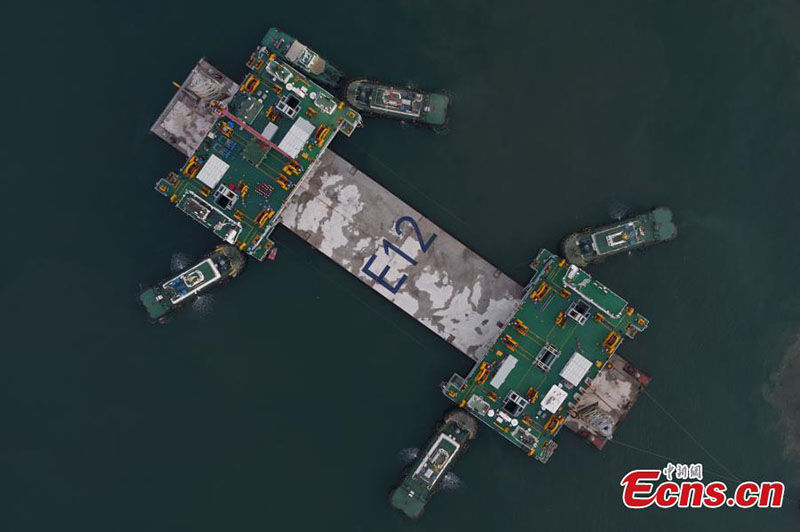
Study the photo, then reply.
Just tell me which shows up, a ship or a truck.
ship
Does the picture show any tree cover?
No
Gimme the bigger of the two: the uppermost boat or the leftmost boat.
the leftmost boat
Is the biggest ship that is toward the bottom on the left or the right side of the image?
right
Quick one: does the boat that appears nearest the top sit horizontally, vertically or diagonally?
diagonally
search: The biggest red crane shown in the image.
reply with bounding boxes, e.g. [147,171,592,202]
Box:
[211,98,299,162]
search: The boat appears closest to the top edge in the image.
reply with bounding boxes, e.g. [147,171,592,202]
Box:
[261,26,342,89]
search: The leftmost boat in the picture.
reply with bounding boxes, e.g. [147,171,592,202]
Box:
[138,246,248,320]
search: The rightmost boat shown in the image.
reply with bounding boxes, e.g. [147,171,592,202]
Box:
[558,206,679,265]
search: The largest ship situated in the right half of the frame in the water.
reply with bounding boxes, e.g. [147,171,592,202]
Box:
[443,246,652,466]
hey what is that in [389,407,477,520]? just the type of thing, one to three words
boat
